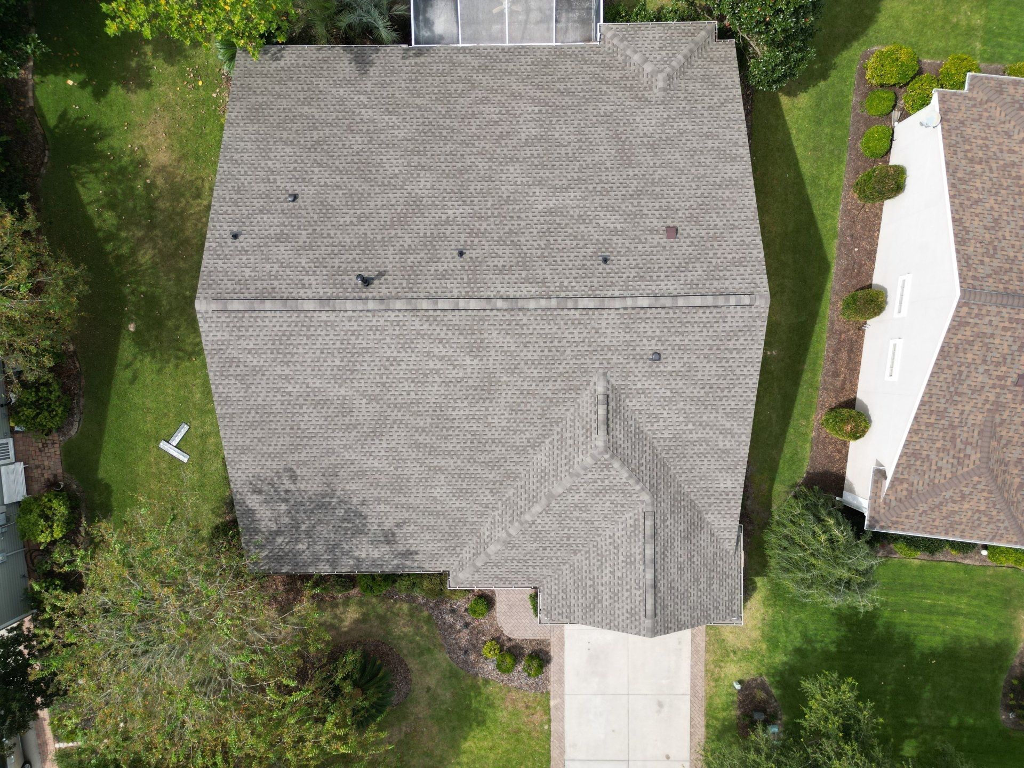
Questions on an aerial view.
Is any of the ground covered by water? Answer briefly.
No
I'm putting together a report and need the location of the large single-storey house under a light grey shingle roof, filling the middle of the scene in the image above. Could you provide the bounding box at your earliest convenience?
[195,19,770,634]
